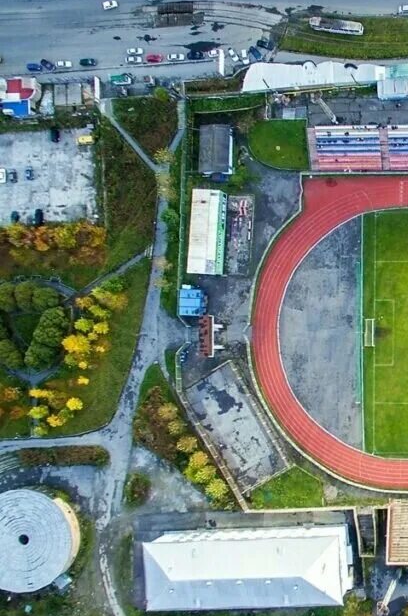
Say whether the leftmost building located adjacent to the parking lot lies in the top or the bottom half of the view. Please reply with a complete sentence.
The top half of the photo is where the leftmost building located adjacent to the parking lot is.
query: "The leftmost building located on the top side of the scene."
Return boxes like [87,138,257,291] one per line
[0,78,51,122]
